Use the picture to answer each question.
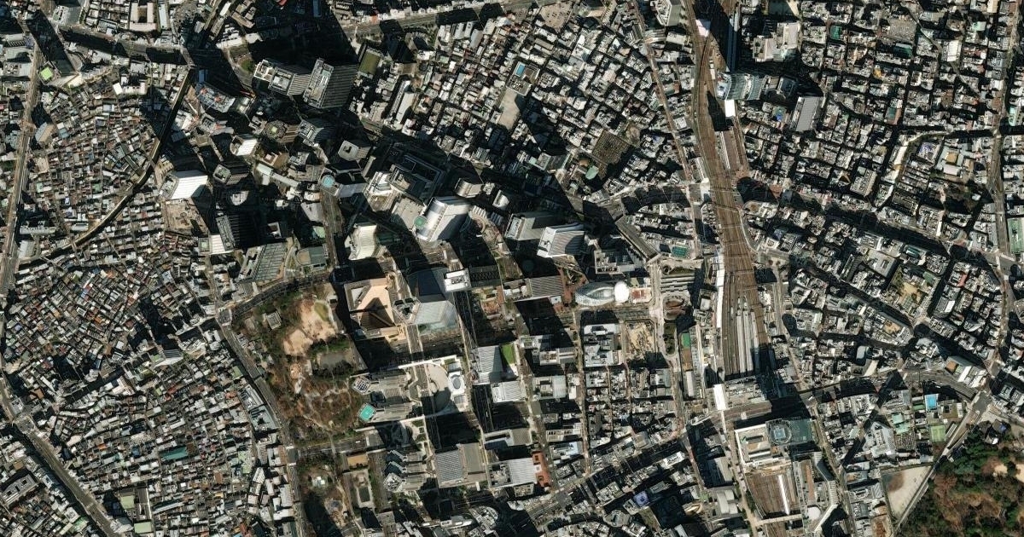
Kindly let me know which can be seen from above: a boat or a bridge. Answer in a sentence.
There is a bridge in the scene.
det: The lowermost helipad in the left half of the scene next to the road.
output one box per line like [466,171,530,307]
[360,405,373,418]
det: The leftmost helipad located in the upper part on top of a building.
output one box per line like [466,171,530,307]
[322,174,335,187]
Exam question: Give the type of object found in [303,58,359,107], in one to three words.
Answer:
building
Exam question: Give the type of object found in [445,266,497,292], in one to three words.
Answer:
building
